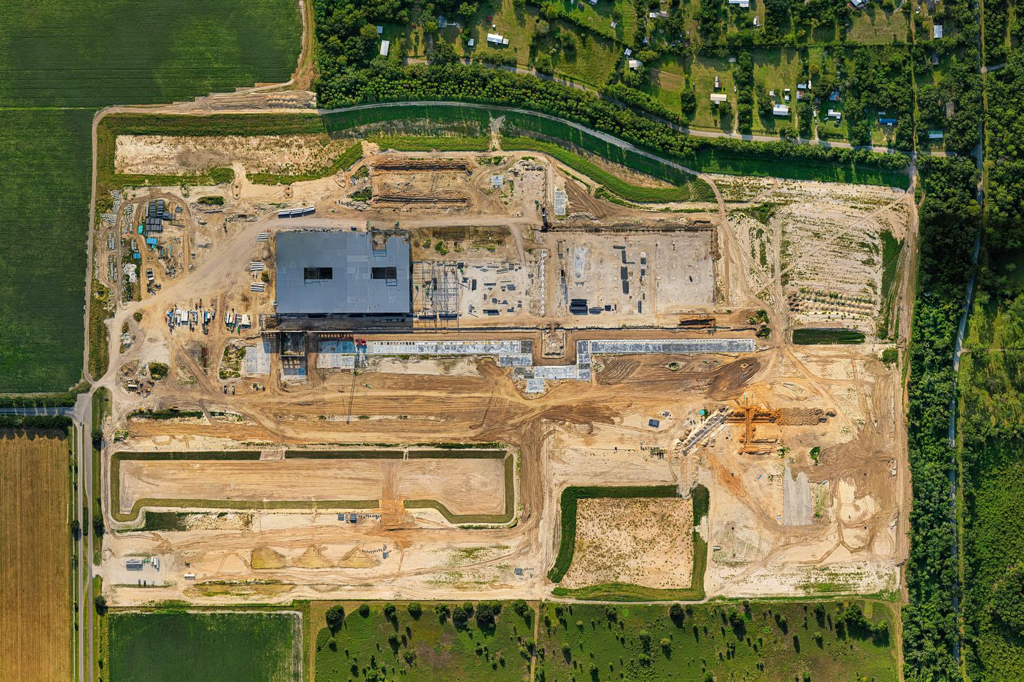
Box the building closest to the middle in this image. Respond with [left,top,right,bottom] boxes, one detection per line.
[274,230,409,313]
